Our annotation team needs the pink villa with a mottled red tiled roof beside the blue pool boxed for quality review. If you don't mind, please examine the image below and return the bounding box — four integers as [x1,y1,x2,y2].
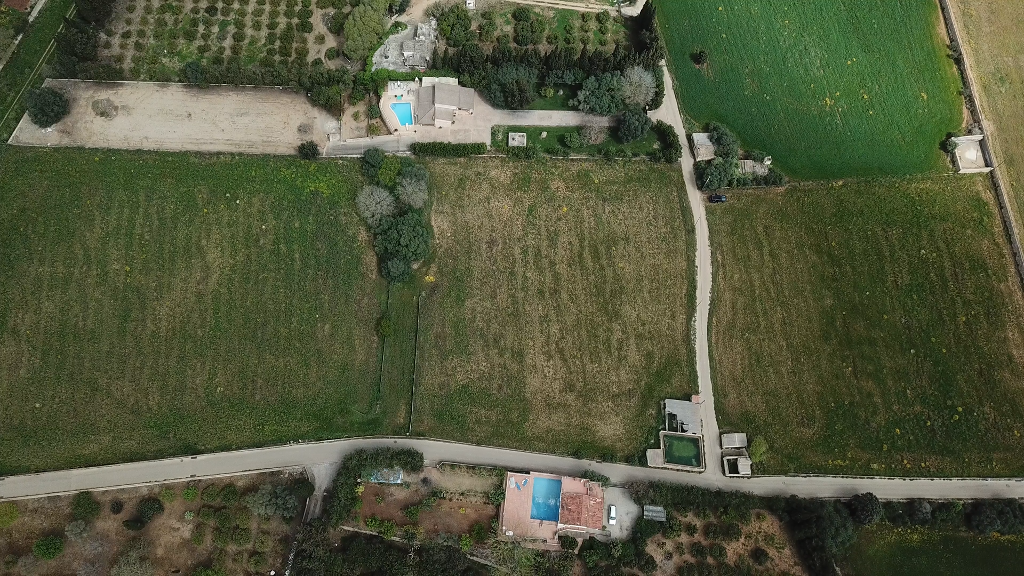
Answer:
[555,493,612,542]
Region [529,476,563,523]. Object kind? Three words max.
swimming pool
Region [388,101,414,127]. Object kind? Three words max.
swimming pool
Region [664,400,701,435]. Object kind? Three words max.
barn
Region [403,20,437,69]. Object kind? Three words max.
house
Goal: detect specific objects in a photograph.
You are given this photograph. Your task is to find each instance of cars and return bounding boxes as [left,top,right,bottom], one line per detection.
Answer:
[608,503,618,524]
[710,193,728,203]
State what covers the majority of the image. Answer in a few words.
grass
